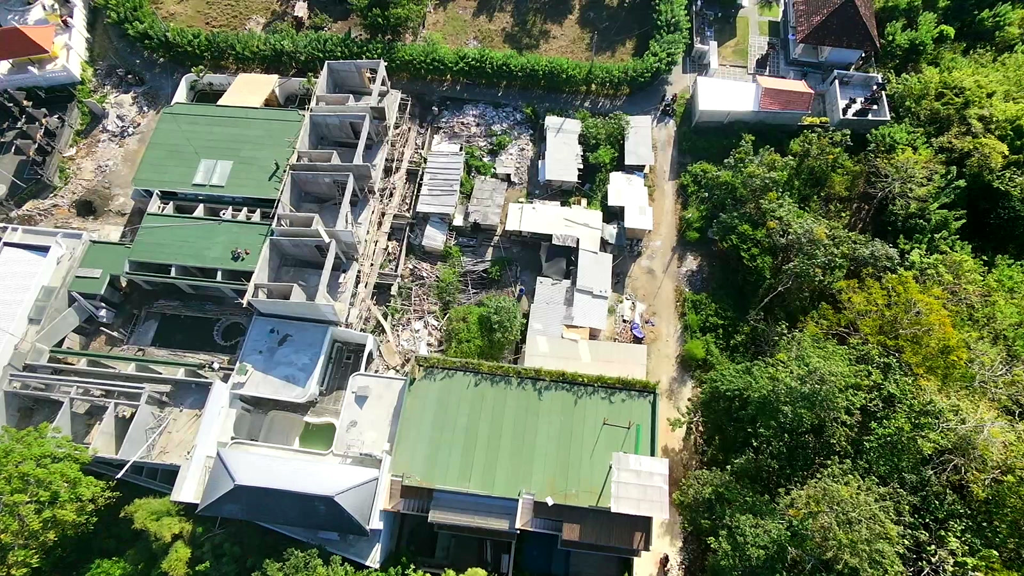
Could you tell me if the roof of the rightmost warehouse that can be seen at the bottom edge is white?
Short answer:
No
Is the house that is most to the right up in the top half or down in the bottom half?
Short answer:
top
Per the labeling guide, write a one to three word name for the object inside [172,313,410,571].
house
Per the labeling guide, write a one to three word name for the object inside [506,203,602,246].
shed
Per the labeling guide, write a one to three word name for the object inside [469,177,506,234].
shed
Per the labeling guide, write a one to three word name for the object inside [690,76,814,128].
building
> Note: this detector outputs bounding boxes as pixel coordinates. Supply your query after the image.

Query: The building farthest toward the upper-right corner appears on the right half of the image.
[788,0,881,71]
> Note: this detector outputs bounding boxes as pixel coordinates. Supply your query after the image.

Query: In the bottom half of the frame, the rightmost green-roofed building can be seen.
[386,355,659,576]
